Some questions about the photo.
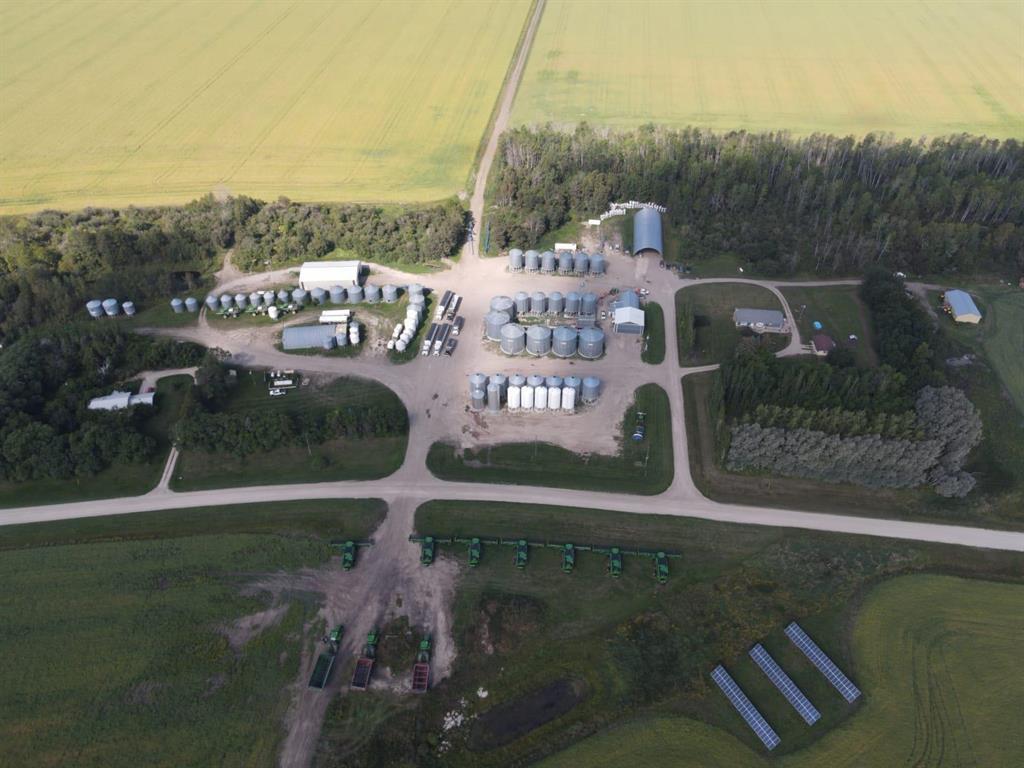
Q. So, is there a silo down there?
Yes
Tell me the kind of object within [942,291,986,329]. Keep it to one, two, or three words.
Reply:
shed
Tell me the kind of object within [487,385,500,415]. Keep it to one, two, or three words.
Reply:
silo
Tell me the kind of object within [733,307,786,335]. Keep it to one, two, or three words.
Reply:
house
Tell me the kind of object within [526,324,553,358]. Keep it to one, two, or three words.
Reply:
silo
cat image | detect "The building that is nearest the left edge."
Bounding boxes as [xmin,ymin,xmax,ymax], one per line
[87,382,161,413]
